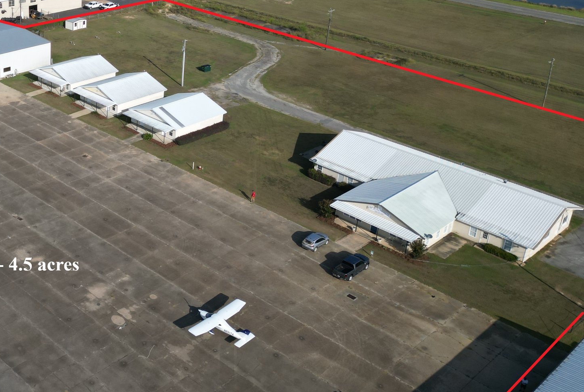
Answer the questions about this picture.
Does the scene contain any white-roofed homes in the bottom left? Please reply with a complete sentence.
No, no white-roofed home appears in the bottom left.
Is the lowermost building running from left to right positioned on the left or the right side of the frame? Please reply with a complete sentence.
The lowermost building running from left to right appears in the right half of the scene.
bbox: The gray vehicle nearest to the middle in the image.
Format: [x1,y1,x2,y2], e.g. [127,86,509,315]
[302,233,330,250]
